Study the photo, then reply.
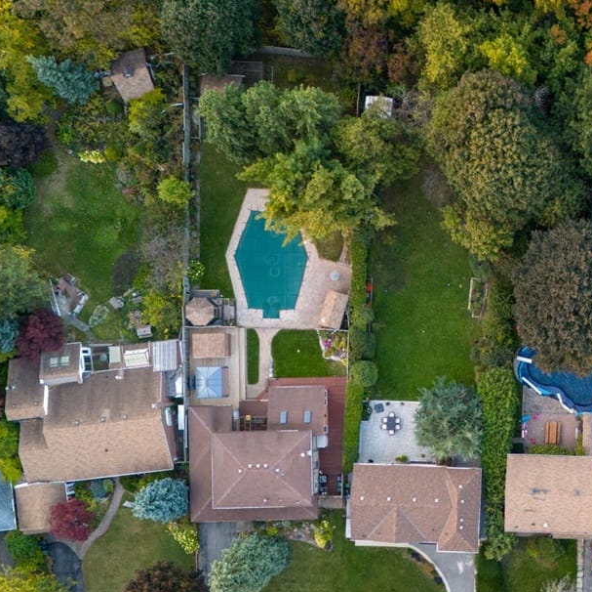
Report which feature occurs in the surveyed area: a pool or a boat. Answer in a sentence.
The image shows a pool.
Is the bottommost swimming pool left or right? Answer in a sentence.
The bottommost swimming pool is on the right side of the image.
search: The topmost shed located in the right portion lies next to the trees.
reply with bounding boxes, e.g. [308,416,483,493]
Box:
[365,96,393,121]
